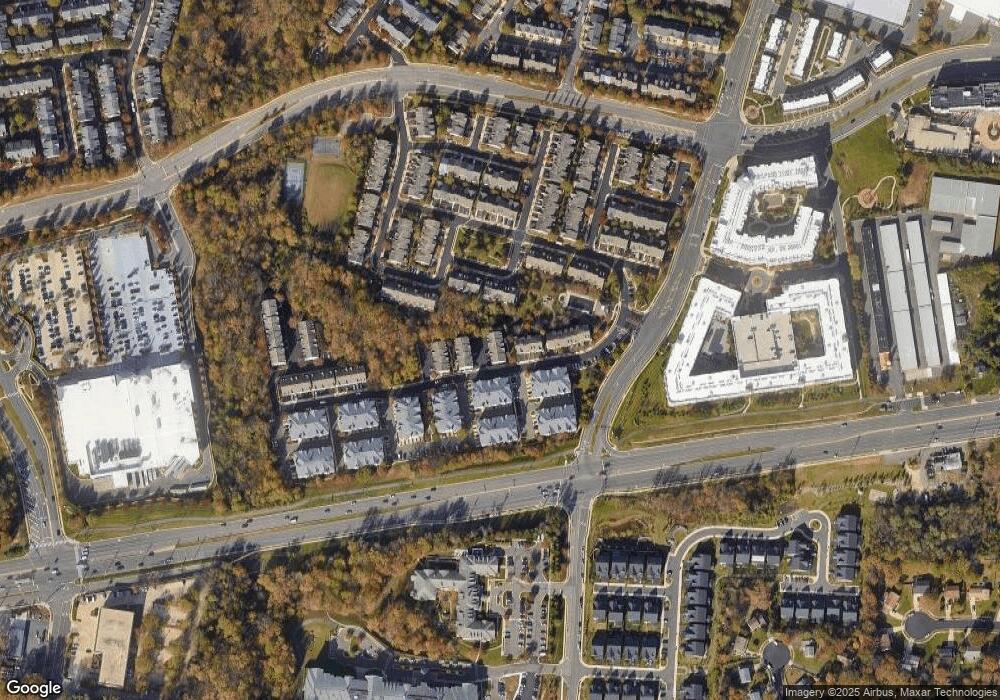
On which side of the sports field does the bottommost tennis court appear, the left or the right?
to its left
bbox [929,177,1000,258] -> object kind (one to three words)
building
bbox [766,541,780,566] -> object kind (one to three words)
house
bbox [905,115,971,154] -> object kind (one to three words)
building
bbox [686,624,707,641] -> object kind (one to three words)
house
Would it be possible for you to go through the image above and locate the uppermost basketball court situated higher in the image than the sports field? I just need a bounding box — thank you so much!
[312,136,341,156]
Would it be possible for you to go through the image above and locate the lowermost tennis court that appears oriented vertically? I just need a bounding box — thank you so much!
[284,159,305,200]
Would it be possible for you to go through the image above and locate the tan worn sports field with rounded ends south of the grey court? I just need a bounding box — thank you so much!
[305,162,358,228]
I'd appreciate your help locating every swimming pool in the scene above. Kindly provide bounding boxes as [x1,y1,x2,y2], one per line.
[568,295,596,313]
